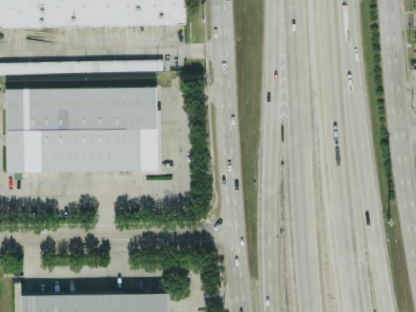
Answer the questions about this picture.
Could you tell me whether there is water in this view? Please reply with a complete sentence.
No, water can't be seen anywhere here.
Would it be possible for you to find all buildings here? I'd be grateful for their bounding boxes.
[5,88,161,174]
[22,294,169,312]
[0,60,164,75]
[0,0,186,28]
